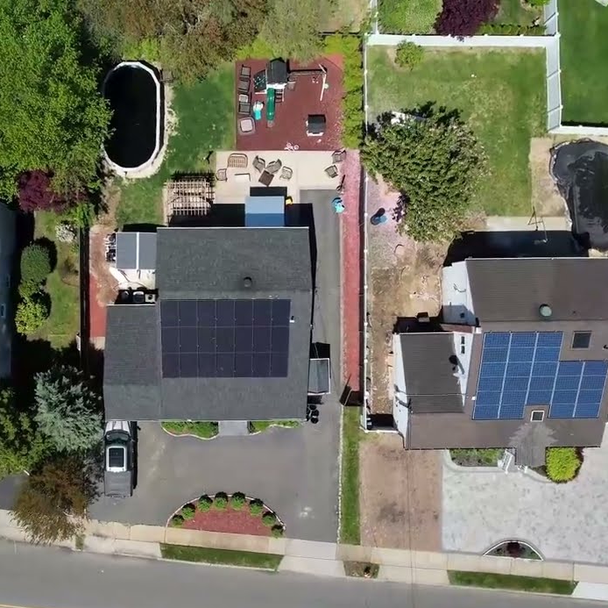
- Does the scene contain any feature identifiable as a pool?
Yes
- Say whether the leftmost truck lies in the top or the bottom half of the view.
bottom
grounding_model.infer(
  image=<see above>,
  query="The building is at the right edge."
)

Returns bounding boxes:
[397,256,608,468]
